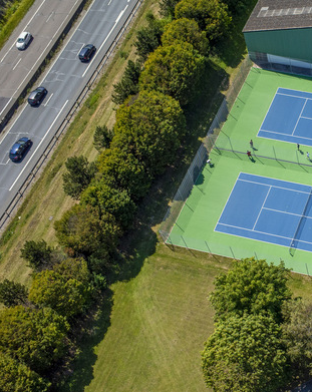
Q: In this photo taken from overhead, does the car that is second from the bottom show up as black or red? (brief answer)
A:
black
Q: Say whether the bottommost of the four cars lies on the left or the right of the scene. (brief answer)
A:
left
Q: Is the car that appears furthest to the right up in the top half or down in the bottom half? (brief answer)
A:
top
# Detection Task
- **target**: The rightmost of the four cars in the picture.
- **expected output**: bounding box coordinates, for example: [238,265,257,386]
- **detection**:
[76,44,97,65]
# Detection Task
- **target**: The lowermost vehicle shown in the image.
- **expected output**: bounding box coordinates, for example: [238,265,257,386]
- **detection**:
[9,138,33,163]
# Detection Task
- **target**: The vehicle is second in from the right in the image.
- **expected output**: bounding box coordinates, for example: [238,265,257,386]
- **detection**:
[27,86,49,109]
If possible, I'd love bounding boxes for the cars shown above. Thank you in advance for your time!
[9,138,33,163]
[76,44,97,65]
[27,86,49,109]
[16,32,33,50]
